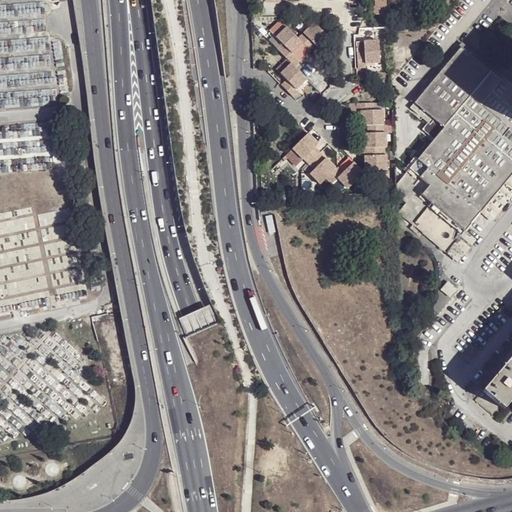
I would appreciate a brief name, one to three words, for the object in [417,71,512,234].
building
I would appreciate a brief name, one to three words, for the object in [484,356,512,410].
building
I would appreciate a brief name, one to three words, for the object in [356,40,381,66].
house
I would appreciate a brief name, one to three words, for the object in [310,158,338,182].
house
